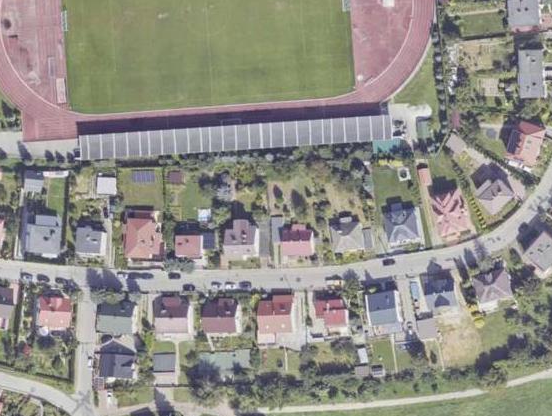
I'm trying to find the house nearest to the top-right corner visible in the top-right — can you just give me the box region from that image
[509,0,544,36]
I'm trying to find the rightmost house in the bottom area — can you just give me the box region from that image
[525,232,552,278]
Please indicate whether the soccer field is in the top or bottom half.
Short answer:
top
